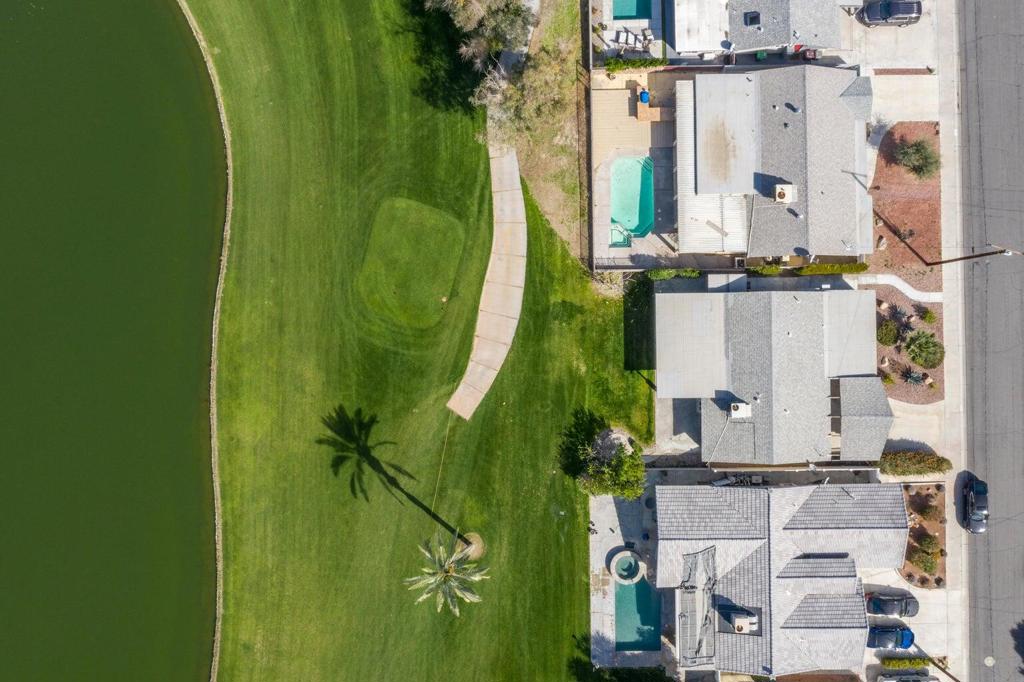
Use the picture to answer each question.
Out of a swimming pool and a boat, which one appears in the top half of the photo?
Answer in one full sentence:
The one visible in the top half of the photo is a swimming pool.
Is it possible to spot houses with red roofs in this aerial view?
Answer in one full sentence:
No, I can see no house with a red roof in this picture.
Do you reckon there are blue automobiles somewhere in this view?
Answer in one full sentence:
Yes, there is a blue automobile in the image.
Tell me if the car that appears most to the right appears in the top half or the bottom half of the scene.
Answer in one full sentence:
It is in the bottom half that the car that appears most to the right appears.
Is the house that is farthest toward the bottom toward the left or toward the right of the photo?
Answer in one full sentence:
The house that is farthest toward the bottom appears in the right half of the scene.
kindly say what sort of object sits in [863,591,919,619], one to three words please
car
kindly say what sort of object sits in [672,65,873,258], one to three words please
house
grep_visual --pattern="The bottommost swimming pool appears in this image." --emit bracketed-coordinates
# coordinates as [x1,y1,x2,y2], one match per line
[613,575,662,653]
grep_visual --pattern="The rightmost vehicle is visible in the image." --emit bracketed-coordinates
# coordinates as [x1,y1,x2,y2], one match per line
[962,479,993,534]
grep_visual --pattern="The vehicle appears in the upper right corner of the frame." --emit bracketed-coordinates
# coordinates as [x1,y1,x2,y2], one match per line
[856,0,920,27]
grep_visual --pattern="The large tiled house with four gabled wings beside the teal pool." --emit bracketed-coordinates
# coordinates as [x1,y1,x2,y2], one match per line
[655,484,909,673]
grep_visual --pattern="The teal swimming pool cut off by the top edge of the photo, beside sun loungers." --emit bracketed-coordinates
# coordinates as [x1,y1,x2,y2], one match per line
[610,0,656,22]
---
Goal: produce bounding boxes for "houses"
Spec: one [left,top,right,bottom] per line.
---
[672,65,873,258]
[675,0,863,54]
[655,484,909,673]
[652,291,893,464]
